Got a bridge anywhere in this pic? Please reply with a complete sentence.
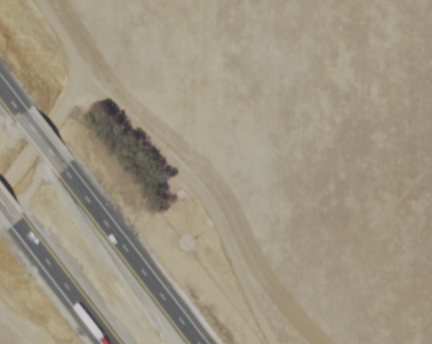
Yes, the picture does show a bridge.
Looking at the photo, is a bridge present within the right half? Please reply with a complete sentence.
No, there's no bridge to be seen within the right half.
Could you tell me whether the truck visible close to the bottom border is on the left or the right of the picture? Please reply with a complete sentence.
The truck visible close to the bottom border appears in the left half of the scene.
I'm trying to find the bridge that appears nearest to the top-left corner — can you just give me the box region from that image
[11,102,78,178]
